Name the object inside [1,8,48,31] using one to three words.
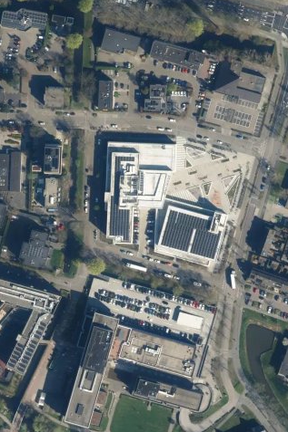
building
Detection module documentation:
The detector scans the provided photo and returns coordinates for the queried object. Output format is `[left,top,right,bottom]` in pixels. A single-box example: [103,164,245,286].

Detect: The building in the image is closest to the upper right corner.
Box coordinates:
[217,60,269,103]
